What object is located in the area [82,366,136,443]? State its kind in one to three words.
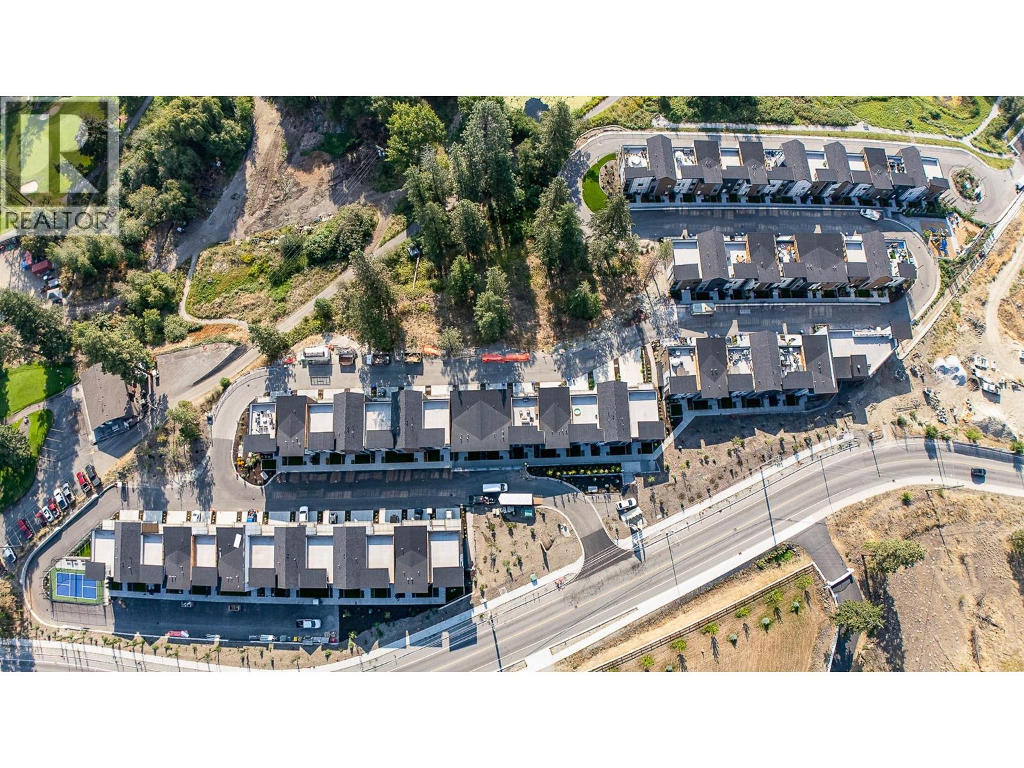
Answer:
building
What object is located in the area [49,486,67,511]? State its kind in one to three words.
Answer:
vehicle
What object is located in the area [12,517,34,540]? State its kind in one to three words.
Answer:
truck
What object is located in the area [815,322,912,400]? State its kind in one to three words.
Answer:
house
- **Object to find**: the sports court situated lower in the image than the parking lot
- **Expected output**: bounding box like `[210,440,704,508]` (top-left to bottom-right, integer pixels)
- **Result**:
[50,568,104,604]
